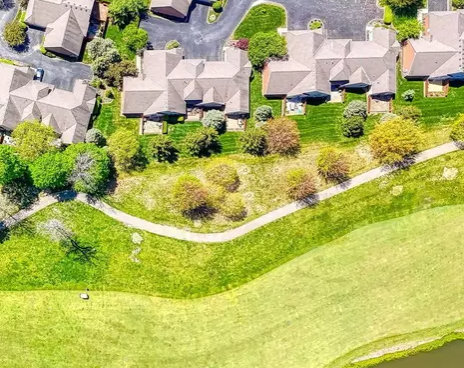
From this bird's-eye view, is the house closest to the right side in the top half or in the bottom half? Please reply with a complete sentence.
The house closest to the right side is in the top half of the image.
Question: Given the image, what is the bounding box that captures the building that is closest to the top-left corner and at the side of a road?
[16,0,110,58]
